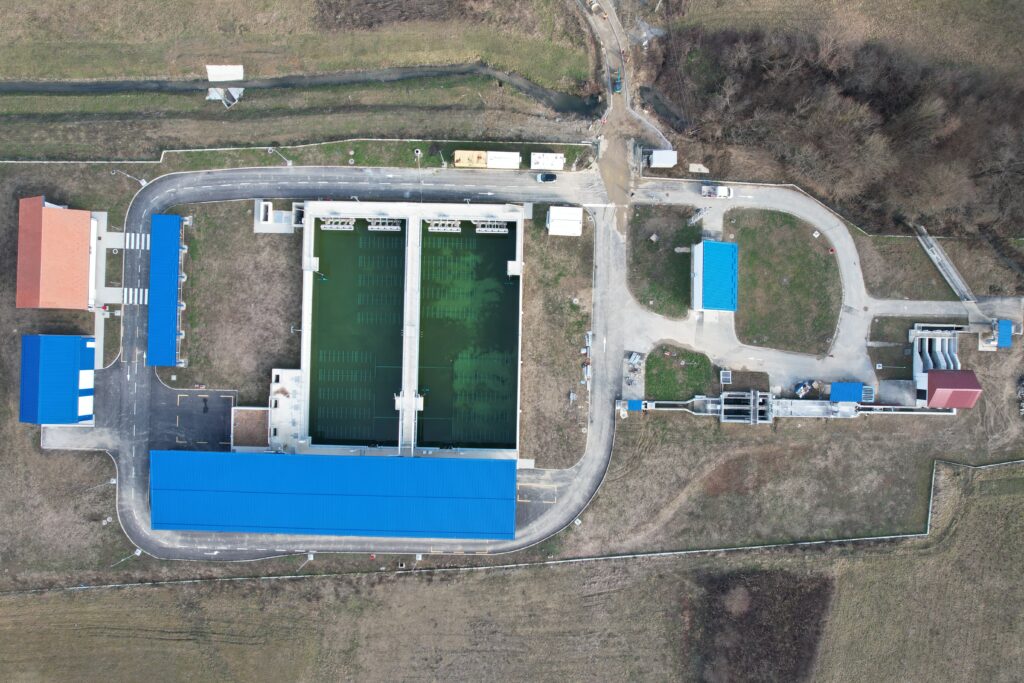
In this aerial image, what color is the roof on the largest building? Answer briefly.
blue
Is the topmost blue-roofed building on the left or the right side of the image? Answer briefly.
right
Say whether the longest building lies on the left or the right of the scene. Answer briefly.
left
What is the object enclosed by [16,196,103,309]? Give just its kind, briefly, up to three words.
house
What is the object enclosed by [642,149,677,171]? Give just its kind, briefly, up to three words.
shed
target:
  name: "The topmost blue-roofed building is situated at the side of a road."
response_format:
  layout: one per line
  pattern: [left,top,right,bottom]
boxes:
[675,240,737,319]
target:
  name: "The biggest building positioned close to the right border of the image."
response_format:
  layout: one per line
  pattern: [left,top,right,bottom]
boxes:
[905,323,983,409]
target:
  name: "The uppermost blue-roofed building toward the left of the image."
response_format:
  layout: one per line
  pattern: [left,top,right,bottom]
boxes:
[19,335,96,427]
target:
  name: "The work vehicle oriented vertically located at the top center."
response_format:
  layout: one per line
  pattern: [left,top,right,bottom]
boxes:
[612,63,624,96]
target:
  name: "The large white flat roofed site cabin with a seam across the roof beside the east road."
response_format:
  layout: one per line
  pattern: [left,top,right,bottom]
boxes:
[546,206,583,239]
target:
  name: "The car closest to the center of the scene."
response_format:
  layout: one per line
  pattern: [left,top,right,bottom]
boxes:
[537,171,558,183]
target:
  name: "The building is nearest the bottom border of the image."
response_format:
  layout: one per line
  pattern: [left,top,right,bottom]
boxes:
[150,448,517,541]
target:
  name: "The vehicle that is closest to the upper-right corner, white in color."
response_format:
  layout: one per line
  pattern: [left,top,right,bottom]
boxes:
[703,183,734,196]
